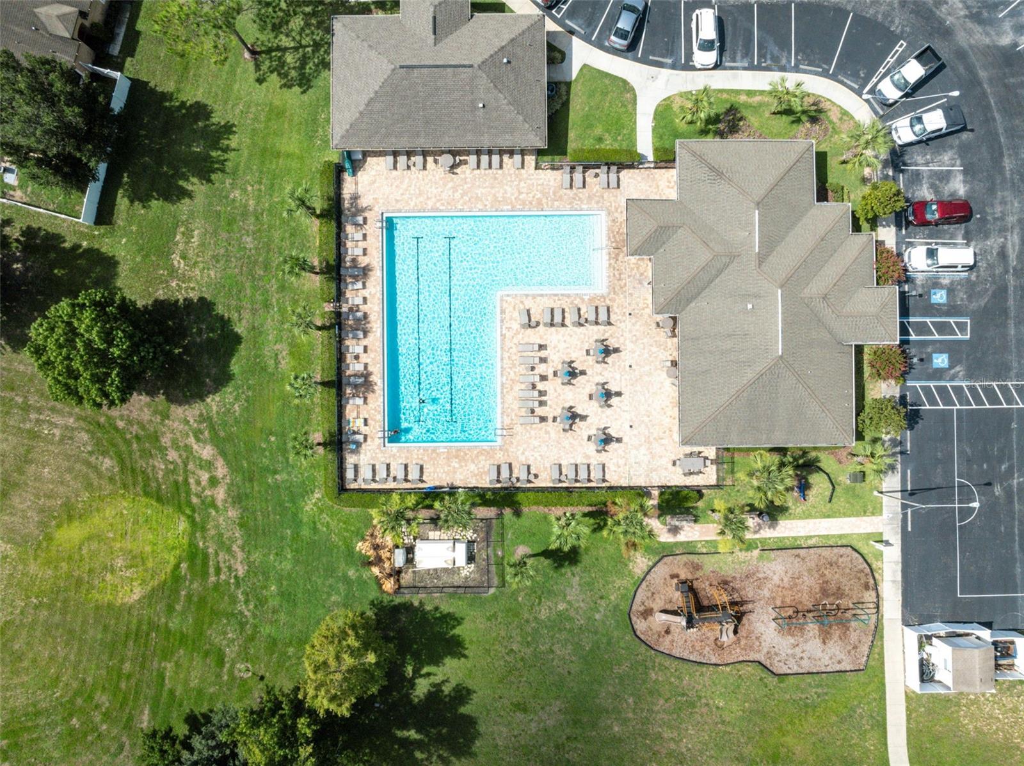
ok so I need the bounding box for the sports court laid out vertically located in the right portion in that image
[954,409,1024,625]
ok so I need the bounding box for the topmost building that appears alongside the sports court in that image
[625,139,900,447]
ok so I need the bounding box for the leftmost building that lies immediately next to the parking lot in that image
[330,0,547,152]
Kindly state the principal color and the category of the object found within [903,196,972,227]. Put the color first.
red car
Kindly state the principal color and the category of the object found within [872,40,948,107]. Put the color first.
white truck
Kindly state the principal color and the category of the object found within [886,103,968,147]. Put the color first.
white truck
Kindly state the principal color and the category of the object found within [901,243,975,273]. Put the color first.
white car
